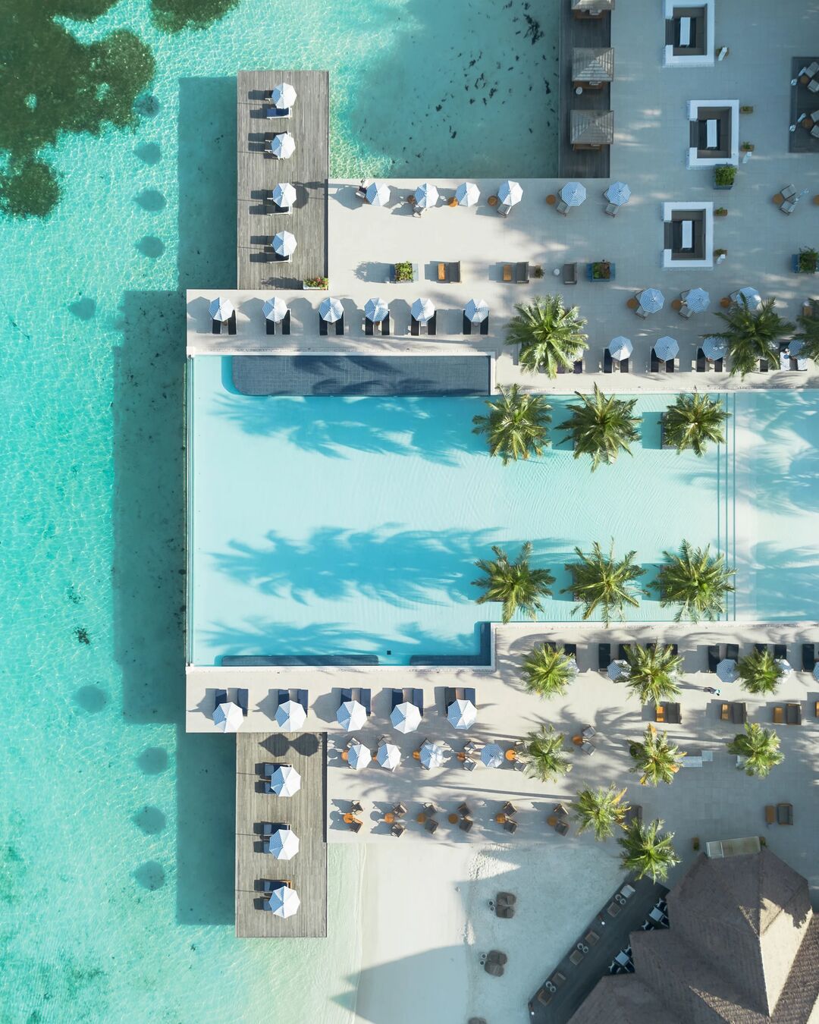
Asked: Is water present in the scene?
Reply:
Yes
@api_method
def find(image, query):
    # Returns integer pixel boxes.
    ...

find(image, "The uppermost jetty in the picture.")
[558,0,610,179]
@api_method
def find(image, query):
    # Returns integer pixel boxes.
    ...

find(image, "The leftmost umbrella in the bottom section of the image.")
[213,701,244,732]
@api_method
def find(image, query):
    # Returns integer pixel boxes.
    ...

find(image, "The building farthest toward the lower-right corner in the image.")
[564,847,819,1024]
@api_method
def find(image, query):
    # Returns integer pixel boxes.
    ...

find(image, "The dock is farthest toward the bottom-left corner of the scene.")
[236,733,327,938]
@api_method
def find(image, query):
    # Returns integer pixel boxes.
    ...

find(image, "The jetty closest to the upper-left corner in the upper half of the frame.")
[237,70,328,290]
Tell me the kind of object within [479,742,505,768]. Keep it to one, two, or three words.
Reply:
umbrella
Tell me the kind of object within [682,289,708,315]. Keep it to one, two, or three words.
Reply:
umbrella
